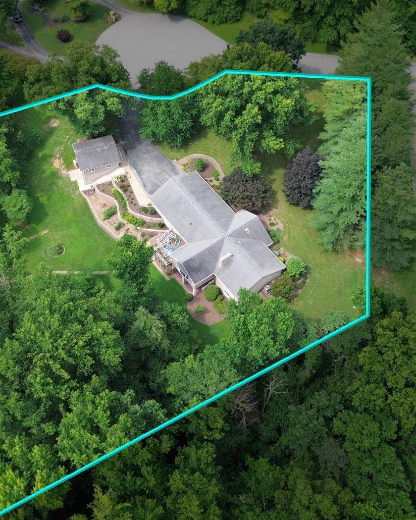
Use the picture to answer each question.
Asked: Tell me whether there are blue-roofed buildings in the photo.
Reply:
No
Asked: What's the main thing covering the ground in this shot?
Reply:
trees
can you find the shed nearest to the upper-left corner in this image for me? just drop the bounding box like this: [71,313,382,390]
[72,134,121,185]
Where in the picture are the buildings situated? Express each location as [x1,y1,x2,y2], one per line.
[72,134,121,185]
[148,171,285,306]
